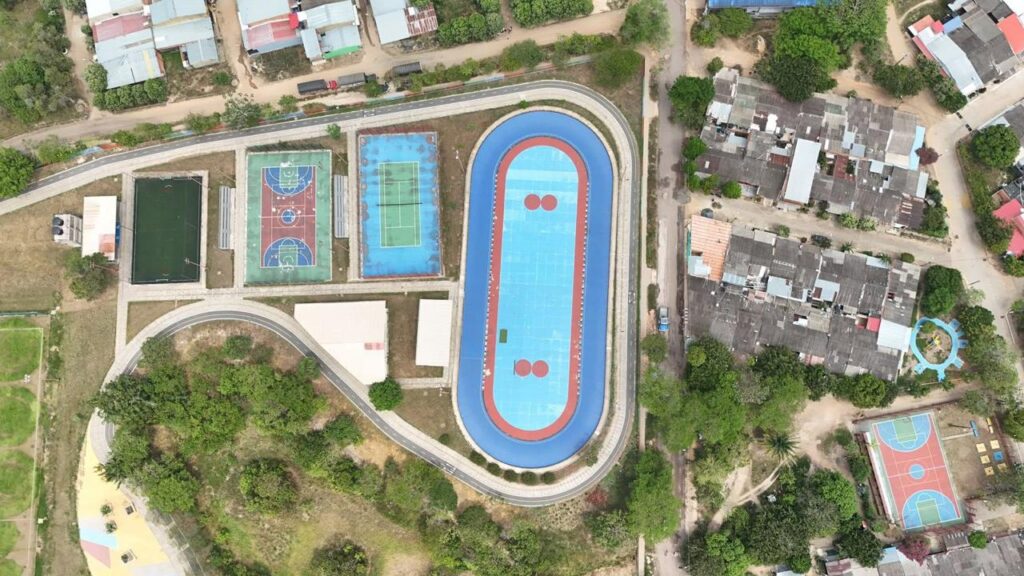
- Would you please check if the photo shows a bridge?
No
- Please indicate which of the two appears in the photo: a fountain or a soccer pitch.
soccer pitch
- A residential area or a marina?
residential area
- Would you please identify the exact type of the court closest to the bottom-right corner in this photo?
basketball court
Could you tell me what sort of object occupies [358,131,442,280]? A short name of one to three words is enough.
tennis court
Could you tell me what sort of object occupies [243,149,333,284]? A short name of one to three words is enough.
basketball court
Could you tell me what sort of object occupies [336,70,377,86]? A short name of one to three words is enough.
vehicle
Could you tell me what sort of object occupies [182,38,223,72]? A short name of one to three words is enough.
house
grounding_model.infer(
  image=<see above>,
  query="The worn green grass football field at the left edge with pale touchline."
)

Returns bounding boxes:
[0,315,43,576]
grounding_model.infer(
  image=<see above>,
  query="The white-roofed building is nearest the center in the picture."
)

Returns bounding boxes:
[416,299,453,366]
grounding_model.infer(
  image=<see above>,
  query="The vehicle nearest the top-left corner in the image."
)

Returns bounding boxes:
[295,77,337,92]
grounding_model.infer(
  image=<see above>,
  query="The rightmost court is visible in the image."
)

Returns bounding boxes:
[867,408,968,536]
